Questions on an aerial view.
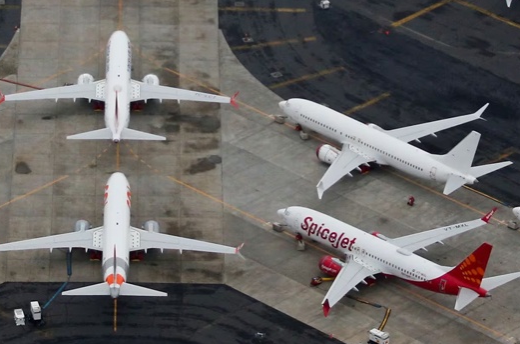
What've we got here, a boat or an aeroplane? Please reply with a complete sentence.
The one in the frame is an aeroplane.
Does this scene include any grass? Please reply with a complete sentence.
No, there is no grass in the image.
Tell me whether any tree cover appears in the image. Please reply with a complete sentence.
No, tree cover can't be seen anywhere here.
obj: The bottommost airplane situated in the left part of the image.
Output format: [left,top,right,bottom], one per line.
[0,174,245,299]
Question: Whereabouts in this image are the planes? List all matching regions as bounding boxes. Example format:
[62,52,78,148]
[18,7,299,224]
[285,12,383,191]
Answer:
[0,174,245,299]
[513,207,520,222]
[277,207,520,317]
[0,32,239,143]
[279,99,513,200]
